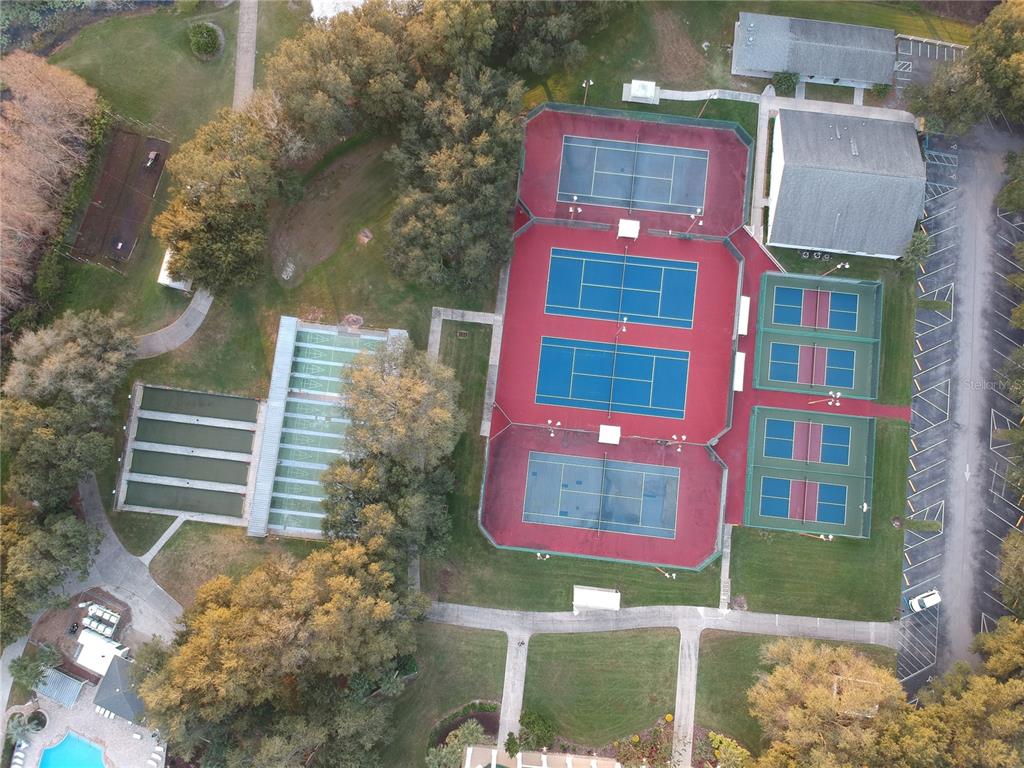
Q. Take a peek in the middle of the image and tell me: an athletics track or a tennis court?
tennis court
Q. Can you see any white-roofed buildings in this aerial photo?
Yes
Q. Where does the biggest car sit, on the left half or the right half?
right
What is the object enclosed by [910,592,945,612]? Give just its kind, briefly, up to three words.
car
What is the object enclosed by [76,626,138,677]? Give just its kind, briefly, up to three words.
building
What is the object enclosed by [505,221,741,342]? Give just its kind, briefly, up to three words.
tennis court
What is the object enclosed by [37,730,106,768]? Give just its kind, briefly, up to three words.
swimming pool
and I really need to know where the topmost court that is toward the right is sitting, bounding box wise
[520,109,749,232]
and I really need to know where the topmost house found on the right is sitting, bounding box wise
[729,12,897,92]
